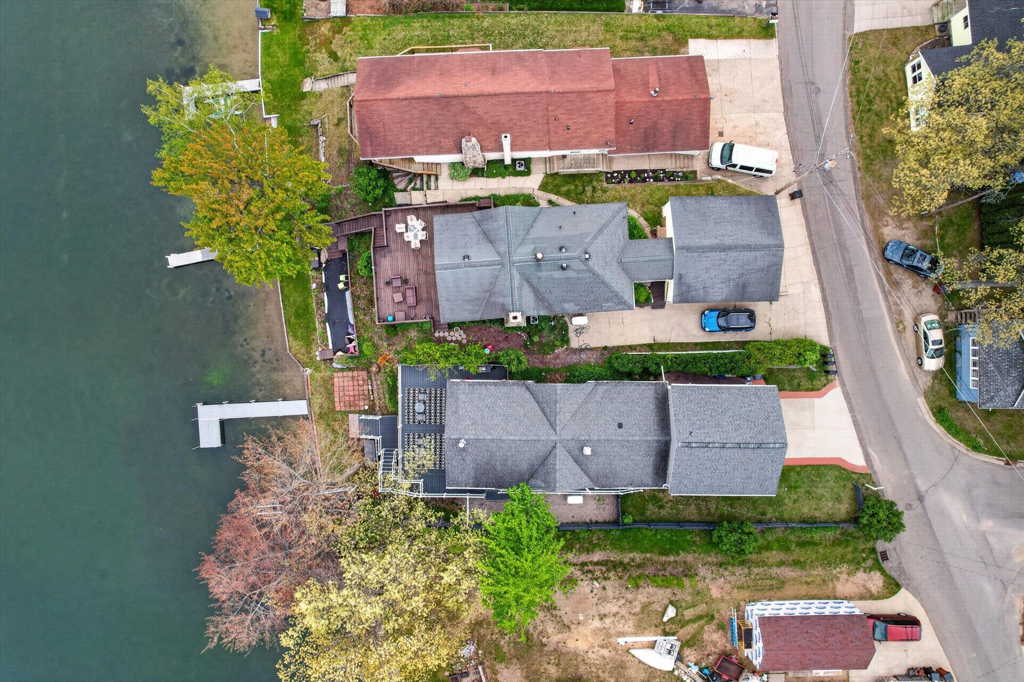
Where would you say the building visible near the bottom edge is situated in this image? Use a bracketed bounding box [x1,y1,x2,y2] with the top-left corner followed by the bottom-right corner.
[745,600,876,670]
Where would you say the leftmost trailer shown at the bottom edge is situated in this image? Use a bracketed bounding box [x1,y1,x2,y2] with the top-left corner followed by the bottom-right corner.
[715,653,750,682]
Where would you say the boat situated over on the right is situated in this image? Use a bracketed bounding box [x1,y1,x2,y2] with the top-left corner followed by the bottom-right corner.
[629,648,676,673]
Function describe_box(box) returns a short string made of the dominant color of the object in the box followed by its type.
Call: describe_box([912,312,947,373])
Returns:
white car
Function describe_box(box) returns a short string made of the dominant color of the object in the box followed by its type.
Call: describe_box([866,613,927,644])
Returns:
red car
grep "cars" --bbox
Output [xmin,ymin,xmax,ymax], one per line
[700,306,756,334]
[866,613,927,644]
[707,139,781,177]
[912,312,947,373]
[878,240,945,279]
